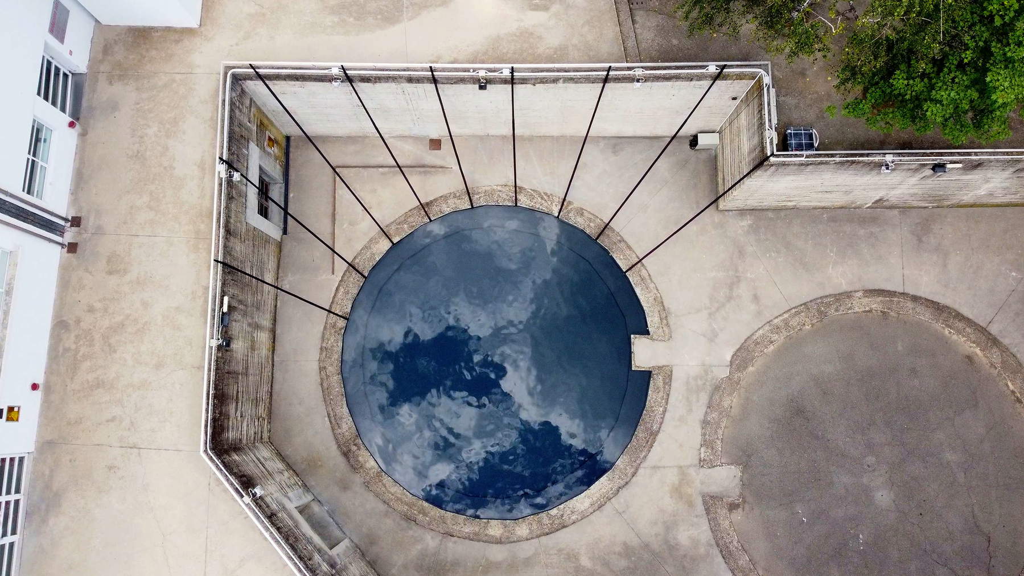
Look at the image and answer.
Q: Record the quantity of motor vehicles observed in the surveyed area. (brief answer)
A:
zero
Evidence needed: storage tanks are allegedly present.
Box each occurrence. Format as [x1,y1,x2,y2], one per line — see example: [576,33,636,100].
[776,122,821,152]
